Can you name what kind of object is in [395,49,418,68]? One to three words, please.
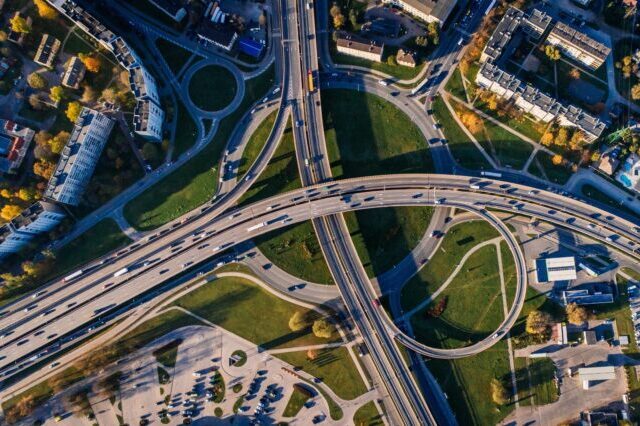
house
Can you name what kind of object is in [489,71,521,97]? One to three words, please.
building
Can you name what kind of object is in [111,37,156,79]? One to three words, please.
building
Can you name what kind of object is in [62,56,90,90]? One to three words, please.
house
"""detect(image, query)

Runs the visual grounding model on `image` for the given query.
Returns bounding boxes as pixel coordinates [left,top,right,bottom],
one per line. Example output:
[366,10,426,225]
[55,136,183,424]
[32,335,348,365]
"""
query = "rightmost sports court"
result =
[568,78,606,105]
